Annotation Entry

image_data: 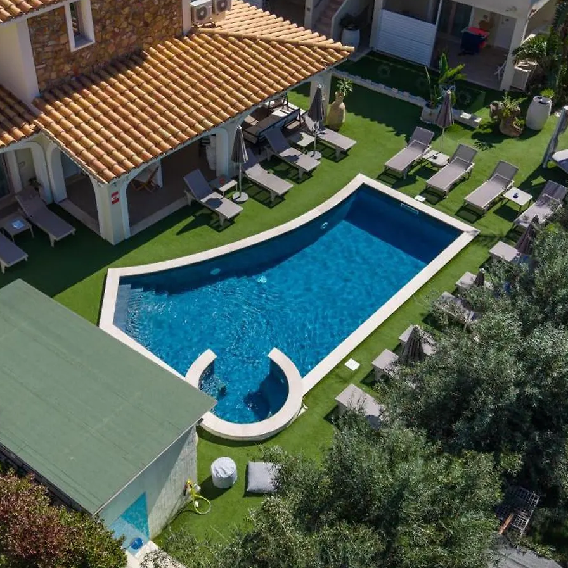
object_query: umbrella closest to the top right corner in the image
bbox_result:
[434,91,457,156]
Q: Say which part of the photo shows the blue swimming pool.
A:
center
